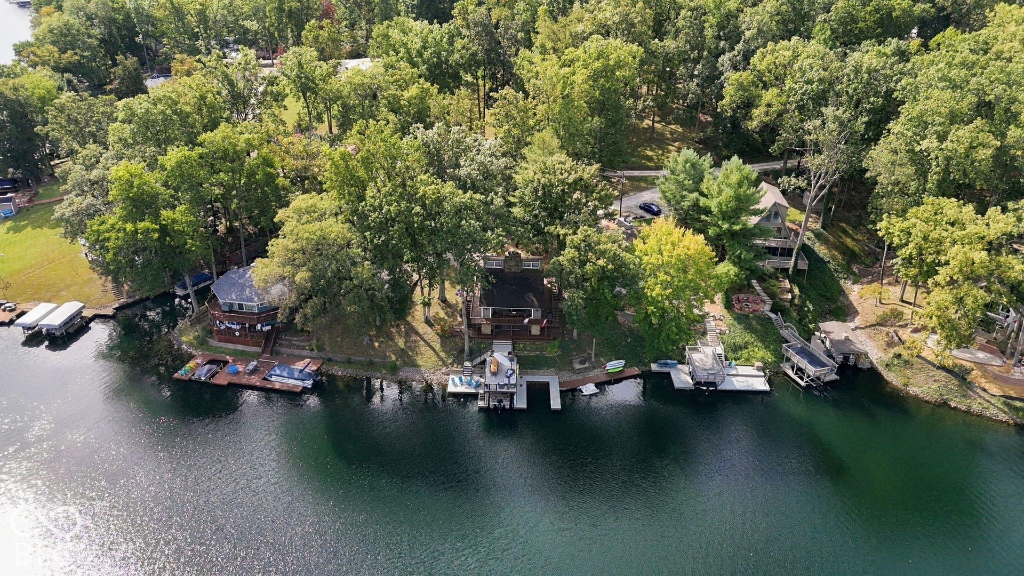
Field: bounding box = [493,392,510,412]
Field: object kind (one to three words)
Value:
boat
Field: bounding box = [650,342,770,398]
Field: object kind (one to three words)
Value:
pier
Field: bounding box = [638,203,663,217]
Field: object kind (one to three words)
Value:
car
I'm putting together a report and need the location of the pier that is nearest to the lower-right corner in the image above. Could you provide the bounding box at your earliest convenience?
[774,341,838,392]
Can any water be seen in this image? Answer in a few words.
Yes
